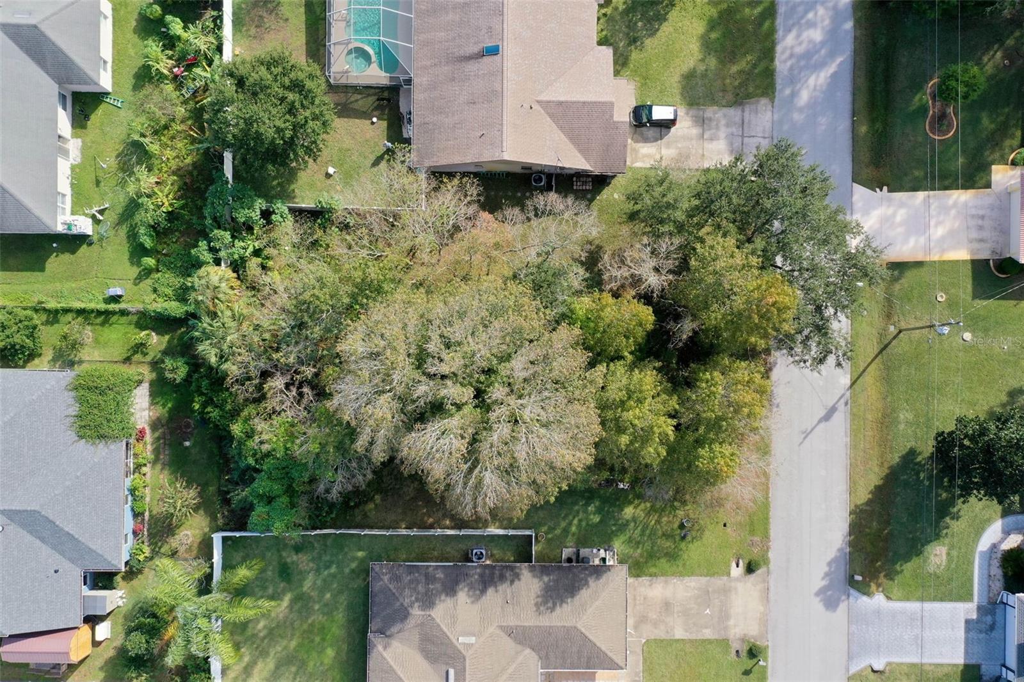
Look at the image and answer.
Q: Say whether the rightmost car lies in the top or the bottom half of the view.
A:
top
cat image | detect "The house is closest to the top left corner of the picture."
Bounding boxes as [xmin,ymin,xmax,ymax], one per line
[0,0,112,234]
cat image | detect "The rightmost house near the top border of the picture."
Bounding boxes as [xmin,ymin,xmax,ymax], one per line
[412,0,629,174]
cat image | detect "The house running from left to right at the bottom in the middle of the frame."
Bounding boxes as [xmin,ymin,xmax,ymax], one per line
[367,562,629,682]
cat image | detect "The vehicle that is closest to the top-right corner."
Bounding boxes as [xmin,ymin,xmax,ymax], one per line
[629,102,678,129]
